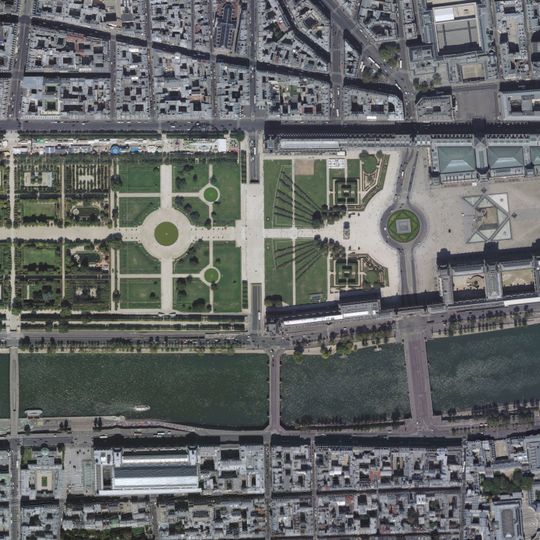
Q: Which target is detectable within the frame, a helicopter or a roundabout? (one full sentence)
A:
This aerial view contains a roundabout.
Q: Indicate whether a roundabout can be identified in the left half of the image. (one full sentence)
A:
No, there's no roundabout to be seen in the left half of the image.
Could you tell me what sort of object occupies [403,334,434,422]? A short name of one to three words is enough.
bridge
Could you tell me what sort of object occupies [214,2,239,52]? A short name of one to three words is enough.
building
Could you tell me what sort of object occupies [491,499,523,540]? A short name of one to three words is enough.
building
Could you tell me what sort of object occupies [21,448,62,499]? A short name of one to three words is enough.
house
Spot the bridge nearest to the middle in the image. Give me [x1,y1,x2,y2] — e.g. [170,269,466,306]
[267,345,281,432]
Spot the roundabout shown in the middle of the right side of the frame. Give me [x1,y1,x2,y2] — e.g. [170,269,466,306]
[379,202,427,250]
